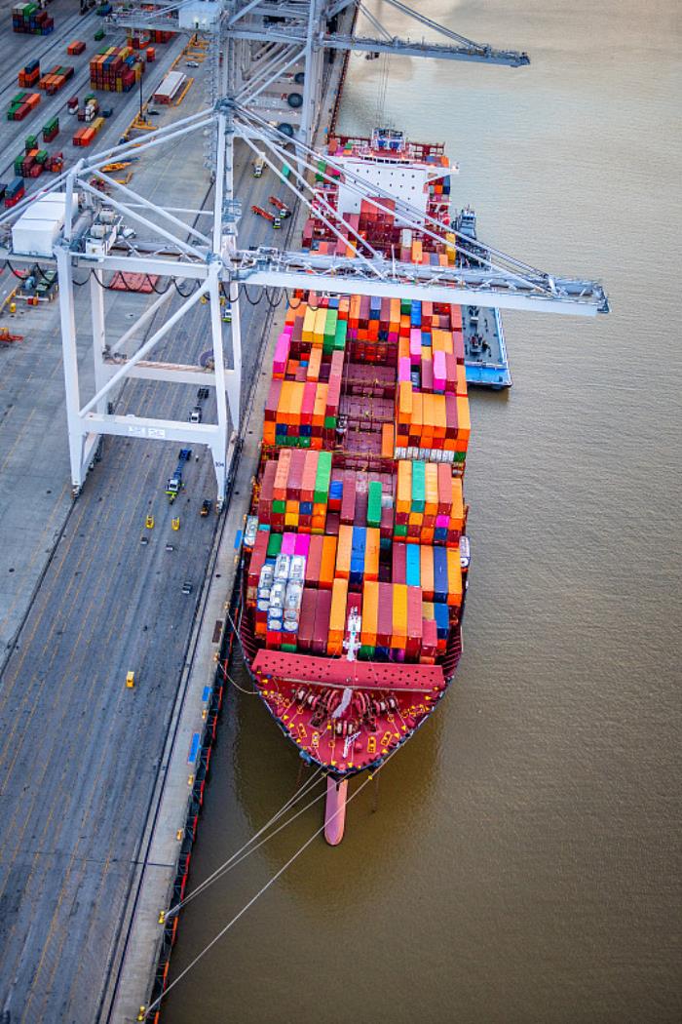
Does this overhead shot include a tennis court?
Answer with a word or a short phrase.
No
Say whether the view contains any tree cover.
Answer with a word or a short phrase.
No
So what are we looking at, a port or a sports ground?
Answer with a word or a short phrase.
port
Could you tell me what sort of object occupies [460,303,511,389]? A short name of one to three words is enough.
ship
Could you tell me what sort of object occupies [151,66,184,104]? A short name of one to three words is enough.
shed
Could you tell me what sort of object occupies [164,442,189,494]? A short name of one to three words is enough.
truck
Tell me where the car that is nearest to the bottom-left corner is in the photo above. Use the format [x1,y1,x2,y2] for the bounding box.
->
[180,574,195,594]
